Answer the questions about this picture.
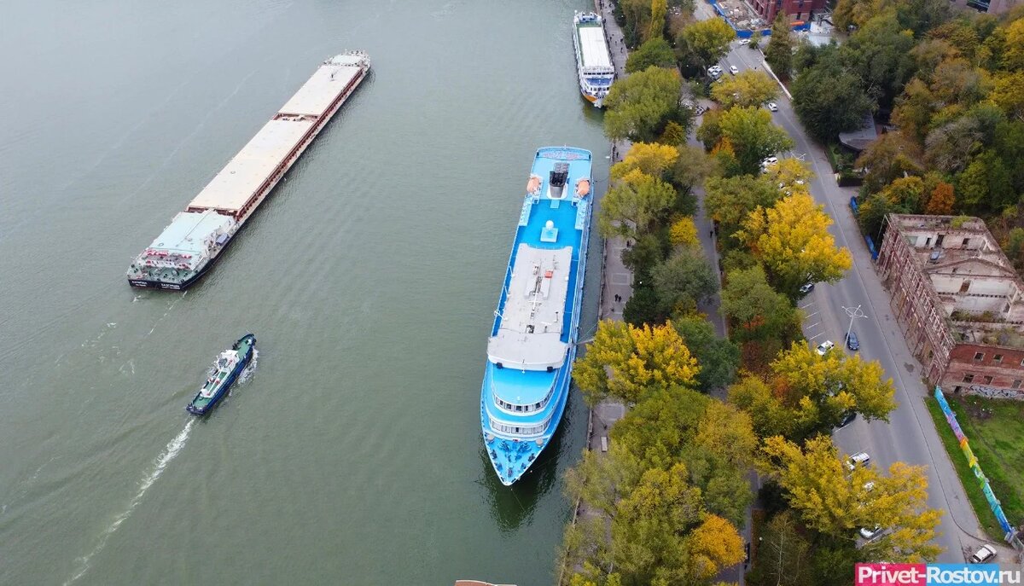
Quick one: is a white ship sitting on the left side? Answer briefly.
Yes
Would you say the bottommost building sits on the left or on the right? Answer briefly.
right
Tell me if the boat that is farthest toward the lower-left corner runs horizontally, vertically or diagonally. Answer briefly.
diagonally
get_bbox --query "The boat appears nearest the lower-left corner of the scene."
[184,328,257,417]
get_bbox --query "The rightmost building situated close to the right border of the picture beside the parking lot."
[874,213,1024,396]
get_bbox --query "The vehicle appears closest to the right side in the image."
[974,544,998,562]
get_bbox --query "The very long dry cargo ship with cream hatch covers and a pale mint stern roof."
[128,45,372,297]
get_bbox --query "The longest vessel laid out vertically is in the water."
[480,143,592,495]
